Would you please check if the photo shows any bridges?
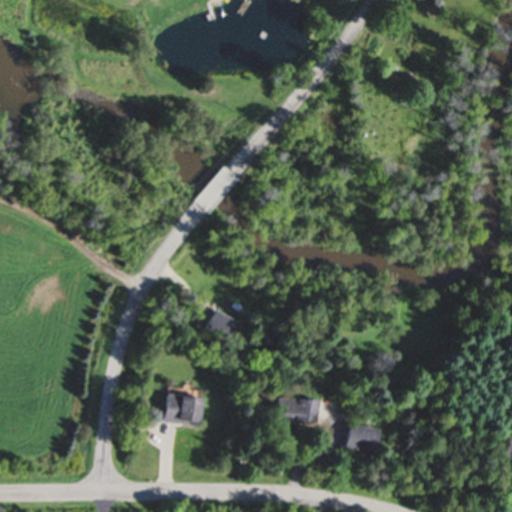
Yes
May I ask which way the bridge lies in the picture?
diagonally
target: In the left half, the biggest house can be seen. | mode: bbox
[166,394,205,424]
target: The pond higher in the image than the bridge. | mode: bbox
[156,0,315,88]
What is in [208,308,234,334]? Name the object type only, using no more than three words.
building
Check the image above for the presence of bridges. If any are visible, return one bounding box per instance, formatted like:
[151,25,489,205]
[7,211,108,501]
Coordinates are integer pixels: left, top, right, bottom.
[188,166,238,222]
